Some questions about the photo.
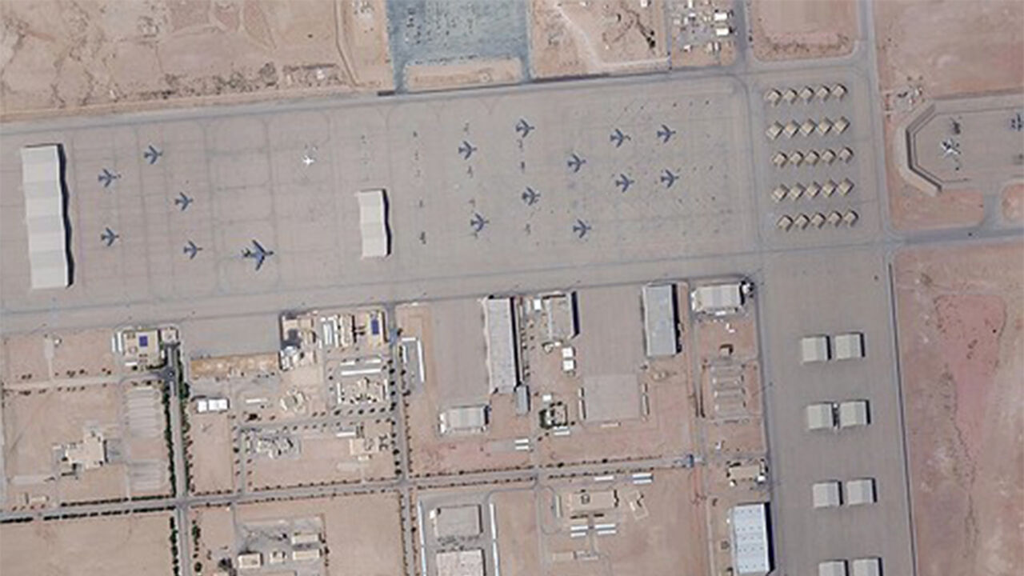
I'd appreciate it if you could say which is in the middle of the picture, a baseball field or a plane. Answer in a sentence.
It is a plane that can be seen in the middle of the picture.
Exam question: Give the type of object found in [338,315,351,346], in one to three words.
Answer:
building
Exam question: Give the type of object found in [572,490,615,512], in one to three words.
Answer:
building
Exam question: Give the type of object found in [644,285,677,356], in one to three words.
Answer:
hangar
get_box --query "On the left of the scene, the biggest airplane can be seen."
[240,239,272,270]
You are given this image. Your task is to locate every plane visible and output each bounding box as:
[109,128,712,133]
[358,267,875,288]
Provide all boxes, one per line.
[143,146,162,164]
[610,129,629,147]
[657,125,676,143]
[515,119,534,137]
[572,220,591,238]
[660,170,679,188]
[459,140,477,159]
[100,228,119,246]
[615,174,633,192]
[184,240,202,259]
[303,155,314,166]
[567,154,586,173]
[240,239,272,270]
[470,213,489,232]
[175,192,194,210]
[521,187,540,205]
[99,168,117,187]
